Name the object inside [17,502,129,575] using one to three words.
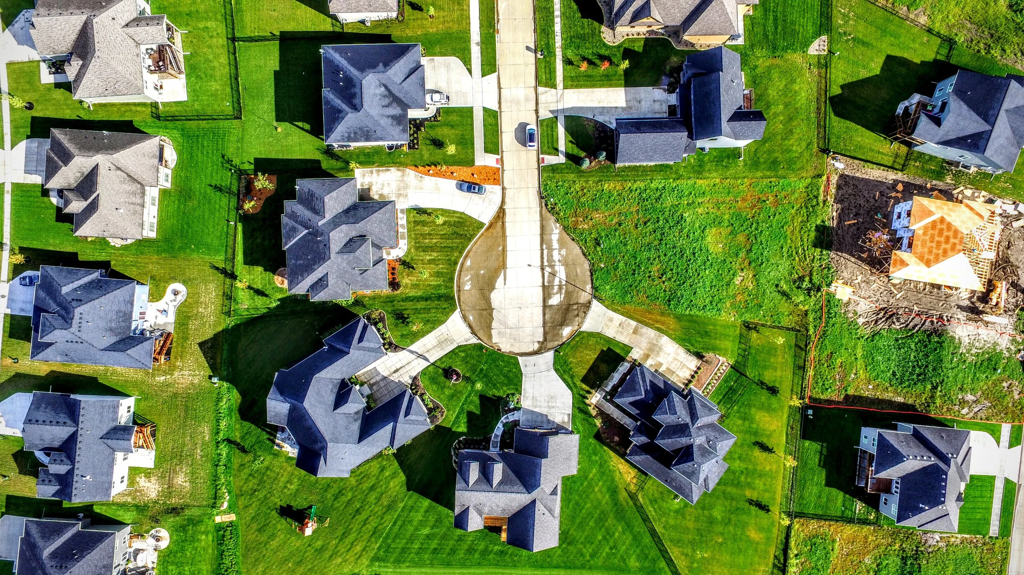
house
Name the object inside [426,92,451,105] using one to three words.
vehicle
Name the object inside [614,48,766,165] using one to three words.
house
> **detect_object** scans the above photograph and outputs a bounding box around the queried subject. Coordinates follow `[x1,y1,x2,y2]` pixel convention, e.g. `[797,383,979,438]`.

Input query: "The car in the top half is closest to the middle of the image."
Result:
[458,181,485,195]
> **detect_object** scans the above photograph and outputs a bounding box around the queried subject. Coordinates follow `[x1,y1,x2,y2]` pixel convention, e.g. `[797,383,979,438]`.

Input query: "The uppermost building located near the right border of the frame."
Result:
[894,72,1024,176]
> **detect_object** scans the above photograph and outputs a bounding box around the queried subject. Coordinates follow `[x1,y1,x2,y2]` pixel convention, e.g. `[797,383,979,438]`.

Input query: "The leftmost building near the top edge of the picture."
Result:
[27,0,190,112]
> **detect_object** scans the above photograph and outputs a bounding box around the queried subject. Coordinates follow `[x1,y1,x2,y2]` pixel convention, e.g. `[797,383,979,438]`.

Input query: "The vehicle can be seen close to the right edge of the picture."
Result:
[986,284,1006,311]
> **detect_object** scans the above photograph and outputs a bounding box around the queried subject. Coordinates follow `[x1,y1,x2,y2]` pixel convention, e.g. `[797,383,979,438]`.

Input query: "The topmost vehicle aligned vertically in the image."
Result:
[526,125,538,150]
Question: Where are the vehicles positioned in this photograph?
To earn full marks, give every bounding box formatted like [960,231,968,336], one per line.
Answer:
[426,92,451,105]
[526,125,538,150]
[458,181,485,195]
[15,274,34,286]
[986,284,1006,311]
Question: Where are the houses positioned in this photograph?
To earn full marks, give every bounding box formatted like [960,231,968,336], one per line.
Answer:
[264,317,431,478]
[19,380,158,503]
[614,48,766,165]
[318,43,426,147]
[30,258,172,370]
[281,177,399,301]
[894,72,1024,176]
[613,364,737,506]
[17,502,129,575]
[43,127,171,240]
[855,417,972,533]
[874,195,1002,292]
[614,0,759,40]
[329,0,399,20]
[453,427,580,553]
[27,0,190,112]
